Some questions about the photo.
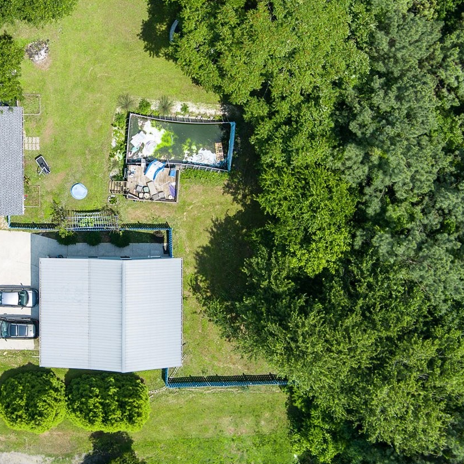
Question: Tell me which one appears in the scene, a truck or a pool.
pool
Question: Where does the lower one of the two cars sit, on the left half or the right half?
left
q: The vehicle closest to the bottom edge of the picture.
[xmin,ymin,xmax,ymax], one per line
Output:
[0,316,37,341]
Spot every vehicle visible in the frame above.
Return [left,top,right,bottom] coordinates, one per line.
[0,287,37,309]
[0,316,37,341]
